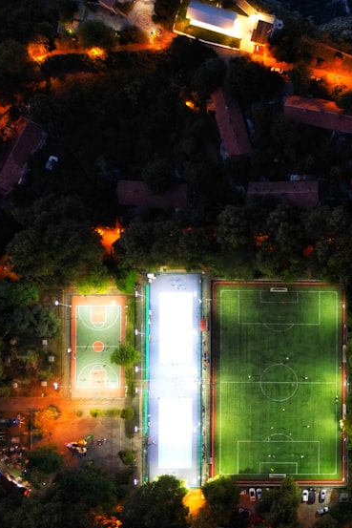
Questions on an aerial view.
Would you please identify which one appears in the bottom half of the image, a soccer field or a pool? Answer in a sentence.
Looking in the bottom half of the image, you will find a soccer field.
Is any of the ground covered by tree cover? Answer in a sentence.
Yes, tree cover can be seen from above here.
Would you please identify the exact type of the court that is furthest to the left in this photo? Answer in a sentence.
The court that is furthest to the left can be classified as a basketball court.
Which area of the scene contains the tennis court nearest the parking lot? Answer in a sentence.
Look in the bottom portion of the view to spot the tennis court nearest the parking lot.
